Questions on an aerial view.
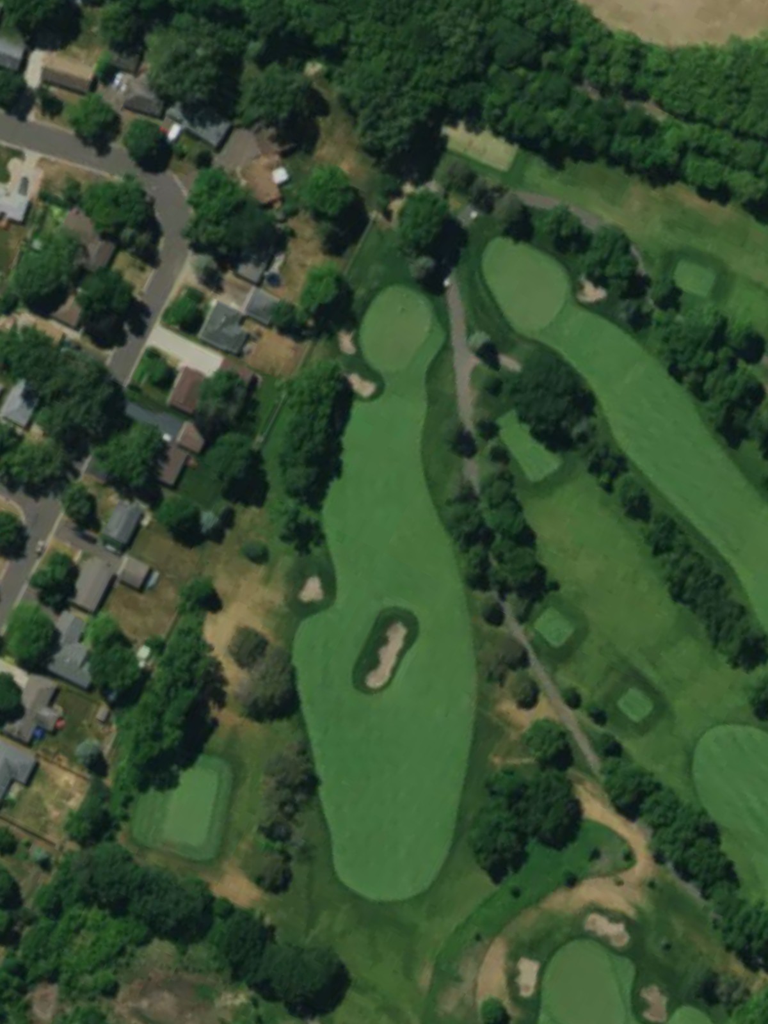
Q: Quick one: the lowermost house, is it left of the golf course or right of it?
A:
to its left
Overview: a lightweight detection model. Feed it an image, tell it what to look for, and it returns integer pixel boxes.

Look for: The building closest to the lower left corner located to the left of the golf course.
[0,736,40,813]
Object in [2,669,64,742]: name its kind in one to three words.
house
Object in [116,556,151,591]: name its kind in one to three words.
building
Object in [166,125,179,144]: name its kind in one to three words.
vehicle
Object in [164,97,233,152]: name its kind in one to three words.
house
